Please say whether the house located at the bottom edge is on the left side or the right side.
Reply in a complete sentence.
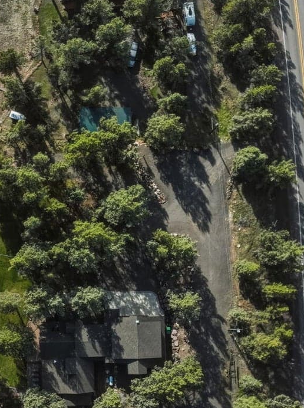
The house located at the bottom edge is on the left side of the image.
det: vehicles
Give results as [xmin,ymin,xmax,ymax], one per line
[126,40,138,69]
[187,31,199,57]
[182,0,196,27]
